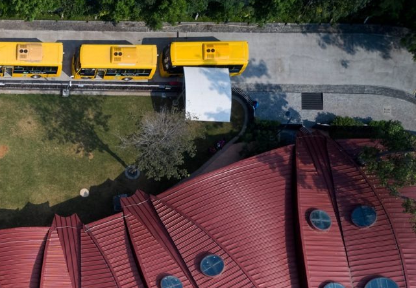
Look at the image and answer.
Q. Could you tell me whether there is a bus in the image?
Yes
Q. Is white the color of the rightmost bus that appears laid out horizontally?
No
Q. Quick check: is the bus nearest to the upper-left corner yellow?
Yes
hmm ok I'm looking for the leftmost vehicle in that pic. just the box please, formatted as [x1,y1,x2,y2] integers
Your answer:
[0,41,63,79]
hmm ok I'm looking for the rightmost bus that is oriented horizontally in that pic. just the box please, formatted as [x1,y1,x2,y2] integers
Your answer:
[152,41,247,79]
